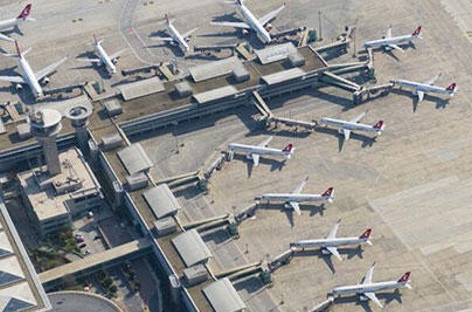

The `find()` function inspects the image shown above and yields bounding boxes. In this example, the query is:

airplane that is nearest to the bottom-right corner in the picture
[332,262,411,309]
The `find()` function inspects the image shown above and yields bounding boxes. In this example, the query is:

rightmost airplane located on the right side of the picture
[395,72,458,102]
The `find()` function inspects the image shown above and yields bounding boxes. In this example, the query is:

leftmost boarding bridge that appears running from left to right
[39,82,96,101]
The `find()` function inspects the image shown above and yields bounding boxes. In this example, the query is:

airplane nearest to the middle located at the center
[228,133,294,167]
